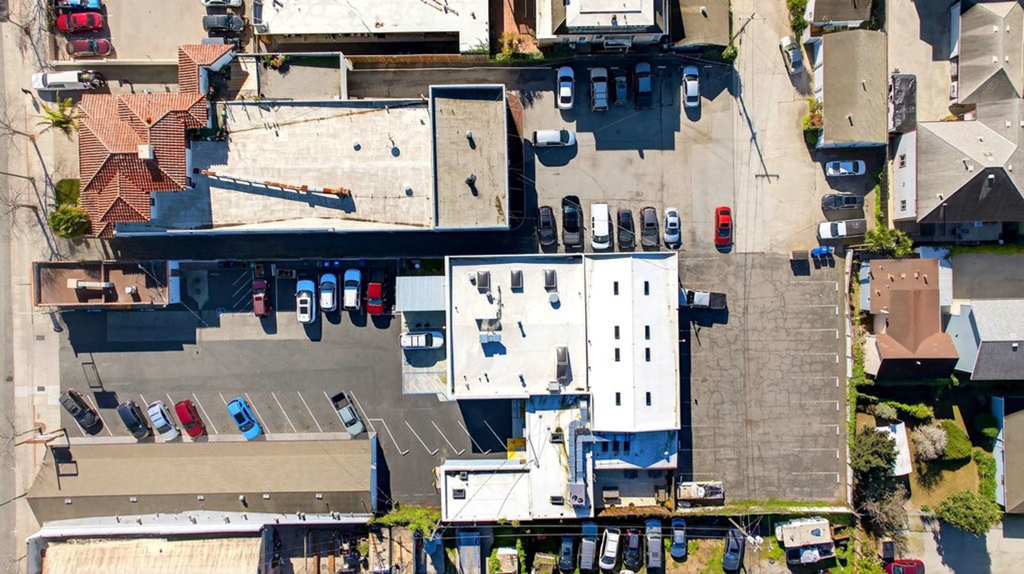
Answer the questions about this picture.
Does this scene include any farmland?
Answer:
No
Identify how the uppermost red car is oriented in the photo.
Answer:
horizontally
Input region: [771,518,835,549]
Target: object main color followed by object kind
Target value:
white camper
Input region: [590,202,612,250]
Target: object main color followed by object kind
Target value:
white vehicle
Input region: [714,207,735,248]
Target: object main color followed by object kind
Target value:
red car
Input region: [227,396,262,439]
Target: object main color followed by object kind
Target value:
blue car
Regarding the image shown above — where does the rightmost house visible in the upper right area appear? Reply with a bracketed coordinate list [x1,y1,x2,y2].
[888,1,1024,241]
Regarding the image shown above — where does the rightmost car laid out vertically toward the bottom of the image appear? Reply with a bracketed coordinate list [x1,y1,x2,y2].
[723,527,745,571]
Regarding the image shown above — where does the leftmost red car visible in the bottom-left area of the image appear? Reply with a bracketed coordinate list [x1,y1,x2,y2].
[173,398,207,440]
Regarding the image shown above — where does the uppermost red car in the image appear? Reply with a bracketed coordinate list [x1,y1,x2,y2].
[57,10,106,33]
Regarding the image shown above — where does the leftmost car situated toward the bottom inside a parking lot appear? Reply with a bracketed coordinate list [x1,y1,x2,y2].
[61,388,100,435]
